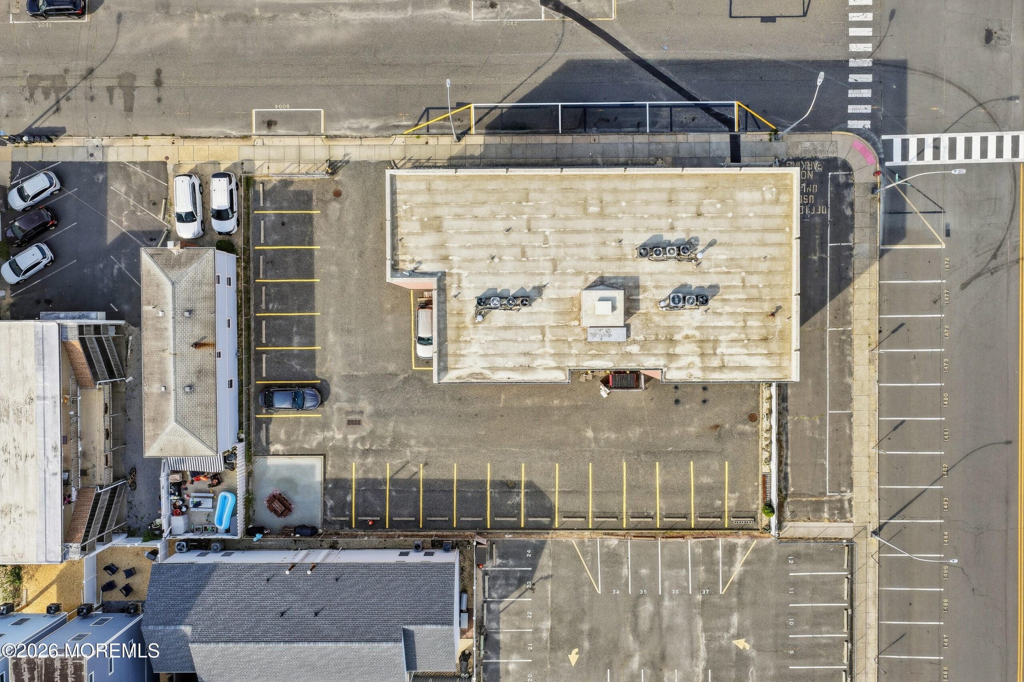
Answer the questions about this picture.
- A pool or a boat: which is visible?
pool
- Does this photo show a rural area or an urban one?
urban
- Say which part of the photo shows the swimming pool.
bottom left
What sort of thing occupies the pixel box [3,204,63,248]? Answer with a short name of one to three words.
car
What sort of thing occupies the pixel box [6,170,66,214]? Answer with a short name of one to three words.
car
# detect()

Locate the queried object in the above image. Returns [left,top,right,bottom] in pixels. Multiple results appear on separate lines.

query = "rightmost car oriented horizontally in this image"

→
[259,384,324,415]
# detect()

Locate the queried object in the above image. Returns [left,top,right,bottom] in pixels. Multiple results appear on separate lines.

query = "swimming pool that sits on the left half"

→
[213,489,237,530]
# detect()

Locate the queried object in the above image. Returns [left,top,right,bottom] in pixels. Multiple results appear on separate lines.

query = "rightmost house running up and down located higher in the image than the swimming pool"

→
[141,239,238,459]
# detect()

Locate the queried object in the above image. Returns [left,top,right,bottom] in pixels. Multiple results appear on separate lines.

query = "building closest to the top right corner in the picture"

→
[385,166,801,384]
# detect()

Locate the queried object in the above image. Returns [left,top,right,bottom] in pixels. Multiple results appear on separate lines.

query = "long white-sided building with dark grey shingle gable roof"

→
[141,549,460,682]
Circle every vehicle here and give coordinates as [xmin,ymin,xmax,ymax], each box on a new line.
[204,170,240,236]
[410,303,434,362]
[26,0,91,21]
[170,172,207,240]
[6,170,66,214]
[3,204,63,248]
[0,242,60,285]
[259,384,324,415]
